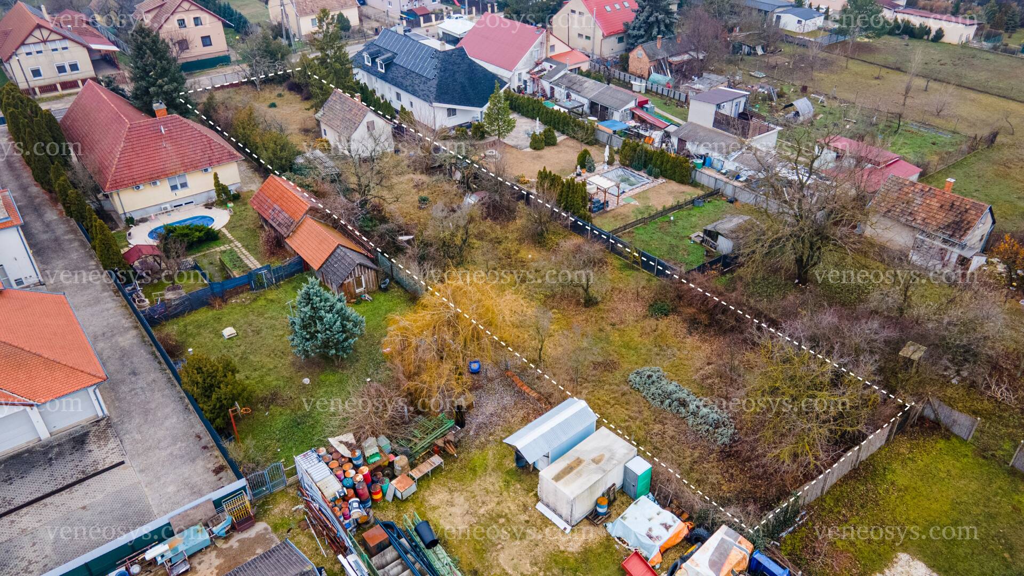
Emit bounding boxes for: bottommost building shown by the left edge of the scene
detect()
[0,293,119,465]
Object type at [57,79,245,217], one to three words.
house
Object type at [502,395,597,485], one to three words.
shed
